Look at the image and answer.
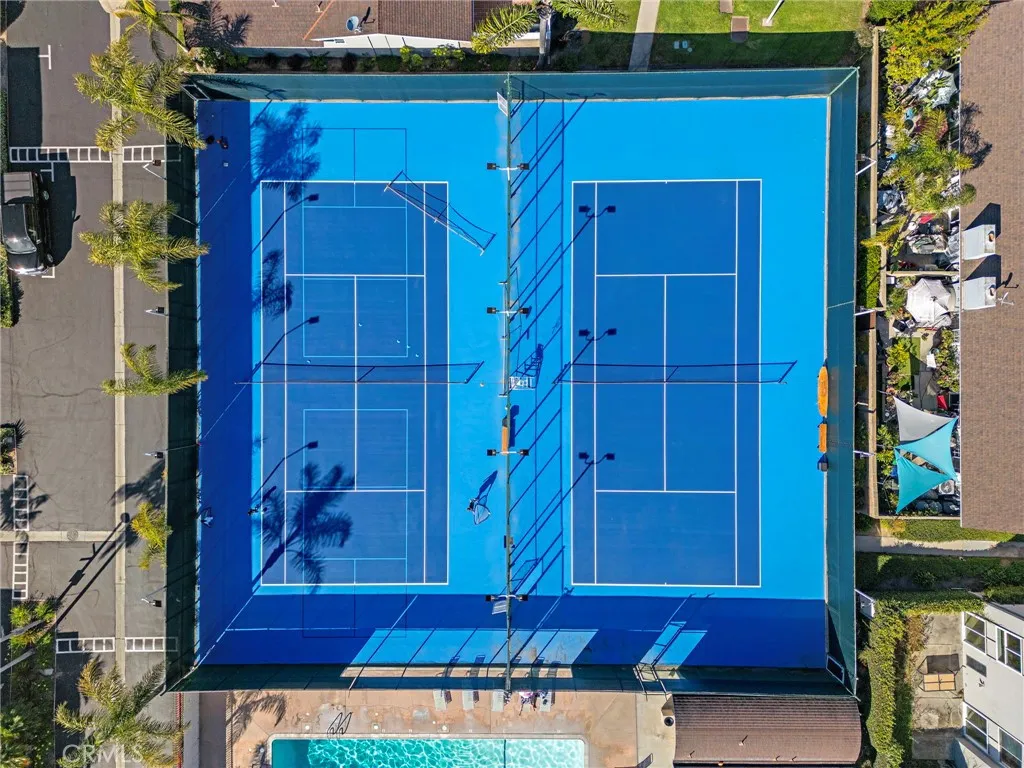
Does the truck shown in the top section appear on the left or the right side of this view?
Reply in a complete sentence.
The truck shown in the top section sits on the left side.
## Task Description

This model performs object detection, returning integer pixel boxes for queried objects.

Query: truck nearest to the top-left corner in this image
[0,172,53,278]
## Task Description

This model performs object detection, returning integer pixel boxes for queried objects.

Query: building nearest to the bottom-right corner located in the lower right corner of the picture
[950,598,1024,768]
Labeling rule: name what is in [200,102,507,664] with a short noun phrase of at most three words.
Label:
tennis court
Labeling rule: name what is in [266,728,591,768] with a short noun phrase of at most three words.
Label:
swimming pool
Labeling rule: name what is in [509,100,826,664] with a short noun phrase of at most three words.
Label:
tennis court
